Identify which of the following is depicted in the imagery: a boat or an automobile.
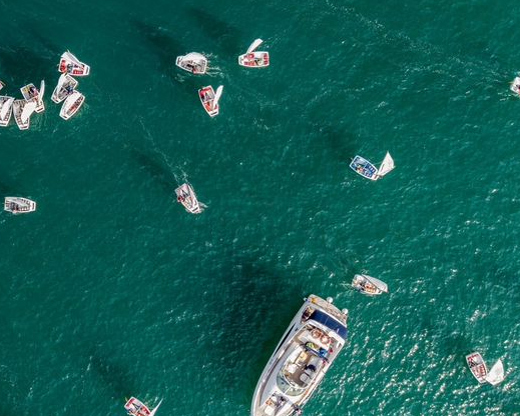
boat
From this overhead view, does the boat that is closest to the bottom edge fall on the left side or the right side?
left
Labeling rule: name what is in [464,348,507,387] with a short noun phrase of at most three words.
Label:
boat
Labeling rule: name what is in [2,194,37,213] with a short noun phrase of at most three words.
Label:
boat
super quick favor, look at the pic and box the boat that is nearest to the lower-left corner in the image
[124,394,164,416]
